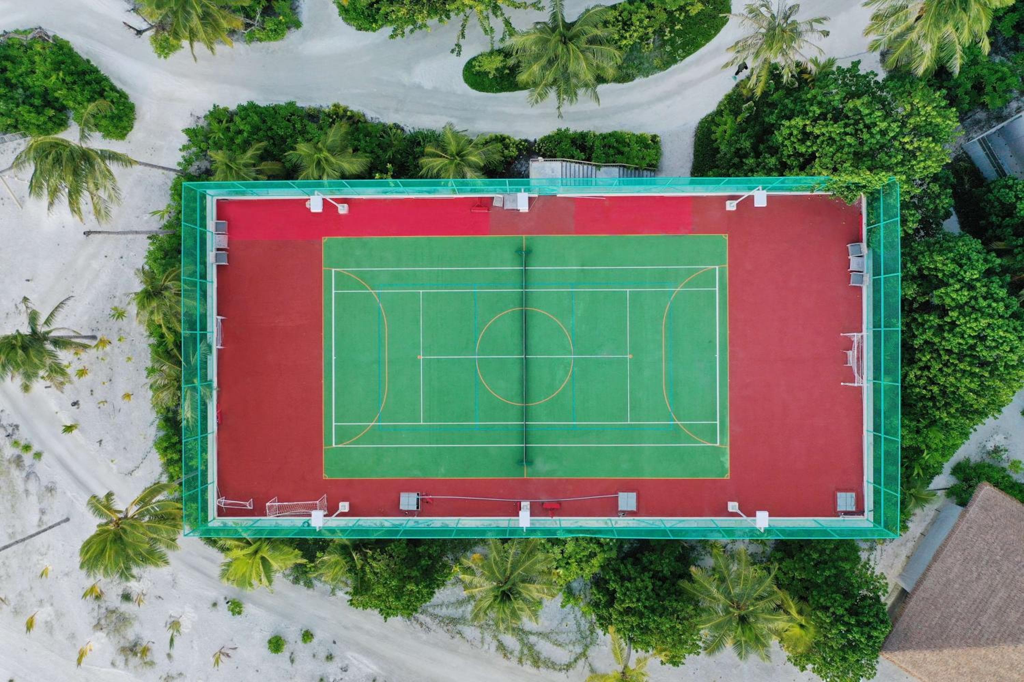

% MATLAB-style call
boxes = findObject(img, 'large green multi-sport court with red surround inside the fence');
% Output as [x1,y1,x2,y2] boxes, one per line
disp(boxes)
[217,192,862,517]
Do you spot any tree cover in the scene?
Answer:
Yes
